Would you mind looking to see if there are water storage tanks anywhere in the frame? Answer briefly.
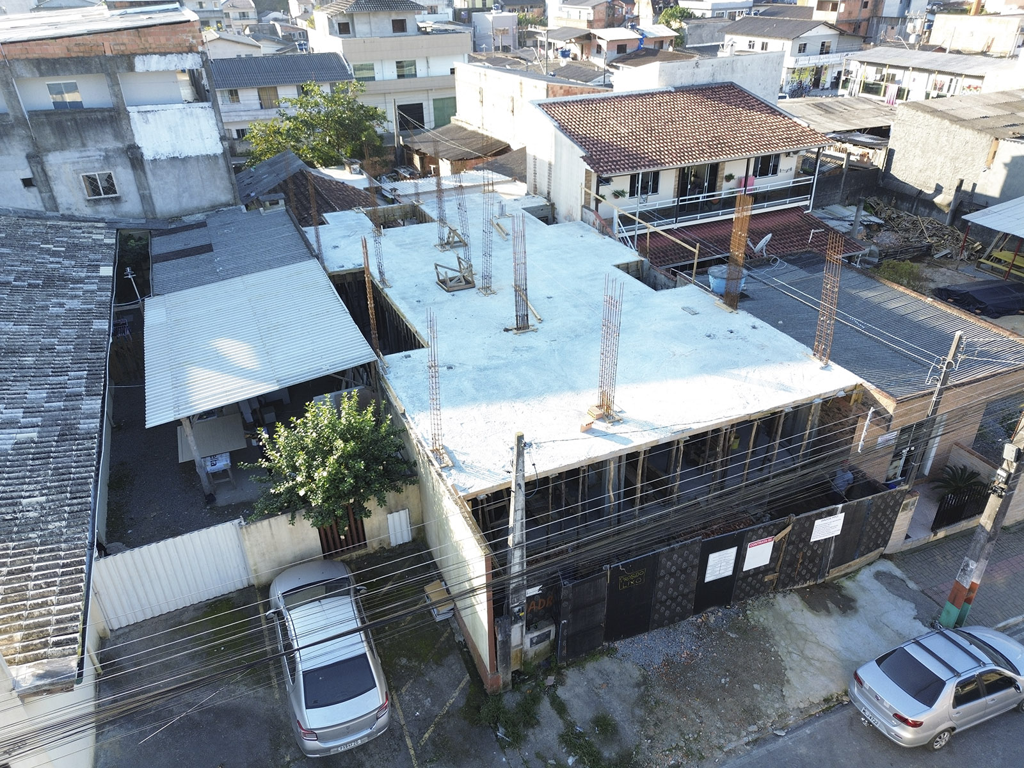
Yes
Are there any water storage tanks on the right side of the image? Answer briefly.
Yes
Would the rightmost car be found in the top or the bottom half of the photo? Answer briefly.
bottom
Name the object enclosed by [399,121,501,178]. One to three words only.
shed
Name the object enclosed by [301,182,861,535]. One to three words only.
building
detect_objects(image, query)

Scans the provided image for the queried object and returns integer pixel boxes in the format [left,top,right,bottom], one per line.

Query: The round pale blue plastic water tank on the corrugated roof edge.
[712,274,746,306]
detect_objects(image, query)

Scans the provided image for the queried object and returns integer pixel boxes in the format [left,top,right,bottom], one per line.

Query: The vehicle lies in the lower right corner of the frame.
[854,611,1024,747]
